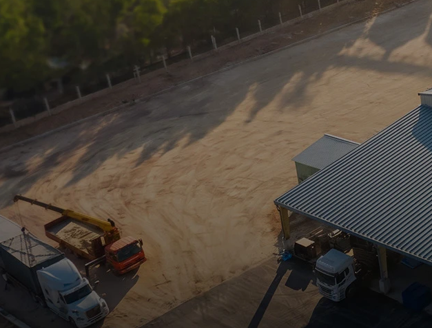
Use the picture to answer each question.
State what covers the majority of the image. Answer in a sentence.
What you mostly see from above here is paved ground.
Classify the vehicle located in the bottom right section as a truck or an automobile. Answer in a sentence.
What you see as the vehicle located in the bottom right section is a truck.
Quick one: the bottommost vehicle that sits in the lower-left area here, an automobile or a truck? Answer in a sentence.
From above, the bottommost vehicle that sits in the lower-left area can be identified as a truck.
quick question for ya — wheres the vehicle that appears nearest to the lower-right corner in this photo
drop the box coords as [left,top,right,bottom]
[313,248,378,301]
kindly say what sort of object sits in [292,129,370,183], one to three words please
shed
